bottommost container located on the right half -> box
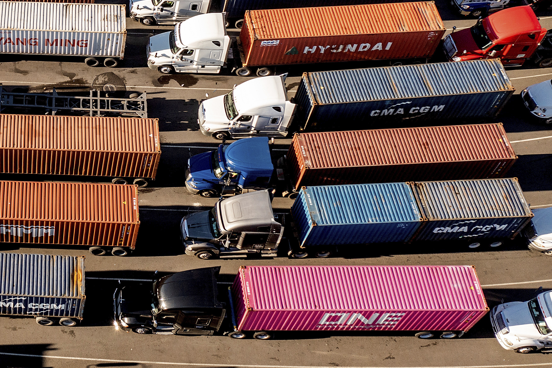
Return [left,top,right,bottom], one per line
[232,267,486,333]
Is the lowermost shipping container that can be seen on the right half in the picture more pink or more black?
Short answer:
pink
